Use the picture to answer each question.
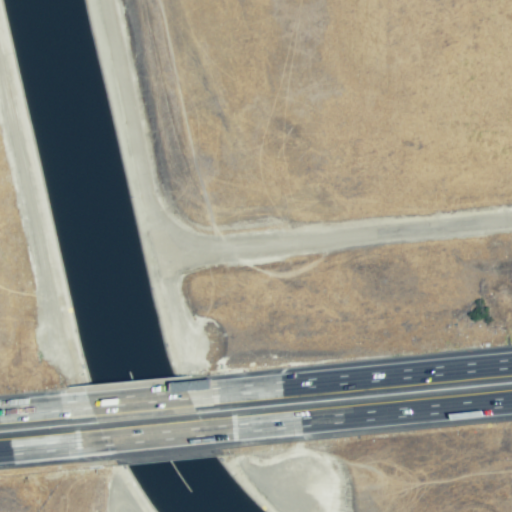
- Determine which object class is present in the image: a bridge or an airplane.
bridge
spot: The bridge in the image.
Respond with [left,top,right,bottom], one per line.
[68,372,235,492]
